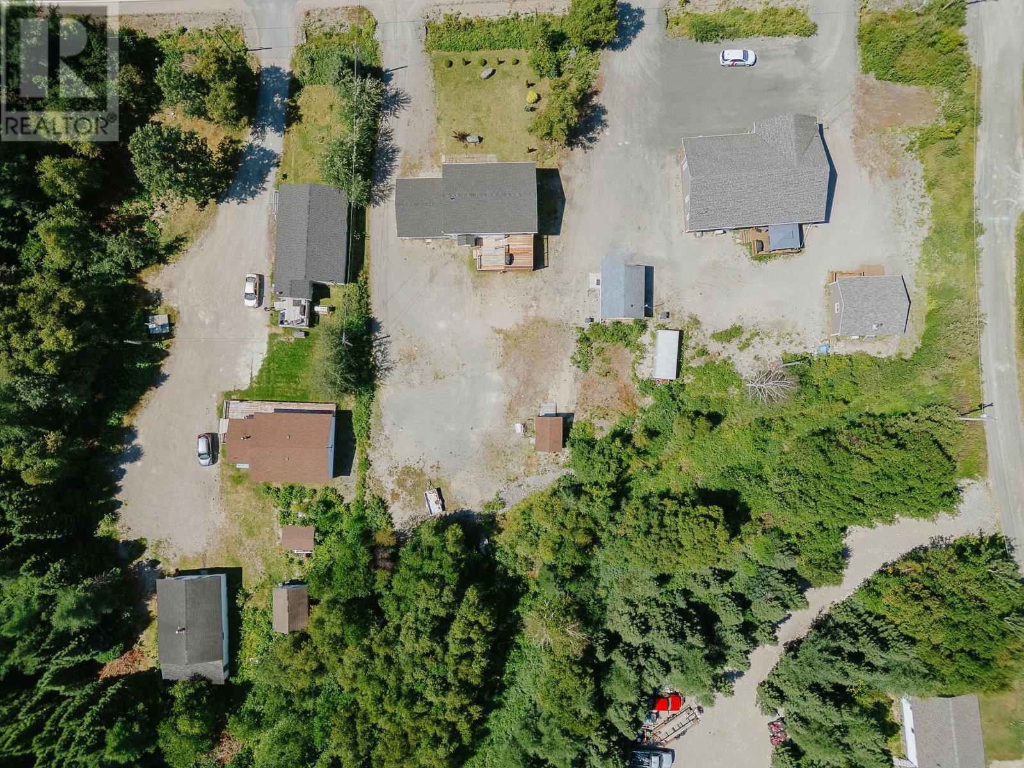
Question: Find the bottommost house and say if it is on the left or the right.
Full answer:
It is on the right.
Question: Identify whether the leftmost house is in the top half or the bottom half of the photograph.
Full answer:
Seen from above, the leftmost house lies in the bottom half of the view.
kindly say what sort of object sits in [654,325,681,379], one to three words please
trailer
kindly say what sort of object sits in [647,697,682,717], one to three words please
car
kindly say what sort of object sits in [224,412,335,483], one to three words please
house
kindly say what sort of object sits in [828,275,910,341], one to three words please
building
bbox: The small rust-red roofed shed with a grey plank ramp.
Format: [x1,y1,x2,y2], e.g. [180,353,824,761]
[535,416,563,453]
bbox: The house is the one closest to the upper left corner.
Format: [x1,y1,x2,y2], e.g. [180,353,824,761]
[269,183,351,301]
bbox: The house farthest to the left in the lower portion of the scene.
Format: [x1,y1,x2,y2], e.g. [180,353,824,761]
[157,567,233,685]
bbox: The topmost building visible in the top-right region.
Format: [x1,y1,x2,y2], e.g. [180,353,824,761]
[675,107,832,234]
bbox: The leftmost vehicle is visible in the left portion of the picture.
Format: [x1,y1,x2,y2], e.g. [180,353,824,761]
[194,434,212,466]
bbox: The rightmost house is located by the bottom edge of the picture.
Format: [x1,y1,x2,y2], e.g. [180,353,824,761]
[891,687,985,768]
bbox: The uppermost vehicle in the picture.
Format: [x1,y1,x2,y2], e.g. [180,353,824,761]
[720,47,756,66]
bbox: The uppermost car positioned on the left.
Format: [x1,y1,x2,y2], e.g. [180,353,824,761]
[241,273,259,309]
